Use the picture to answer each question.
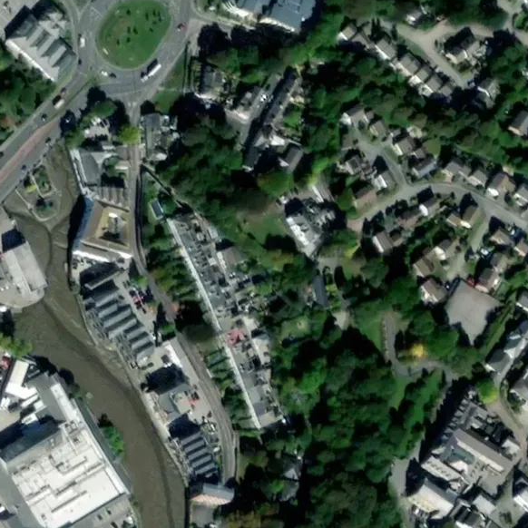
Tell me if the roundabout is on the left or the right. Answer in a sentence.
The roundabout sits on the left side.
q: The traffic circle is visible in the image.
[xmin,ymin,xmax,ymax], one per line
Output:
[76,0,189,86]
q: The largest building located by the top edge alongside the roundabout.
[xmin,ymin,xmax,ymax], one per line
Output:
[5,12,75,85]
